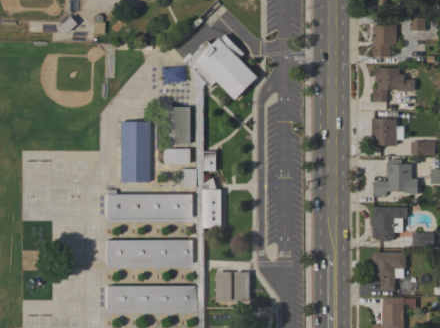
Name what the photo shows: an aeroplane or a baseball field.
baseball field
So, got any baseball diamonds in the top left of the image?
Yes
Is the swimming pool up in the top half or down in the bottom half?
bottom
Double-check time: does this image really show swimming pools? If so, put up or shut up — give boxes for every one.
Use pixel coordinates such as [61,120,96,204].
[408,210,438,232]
